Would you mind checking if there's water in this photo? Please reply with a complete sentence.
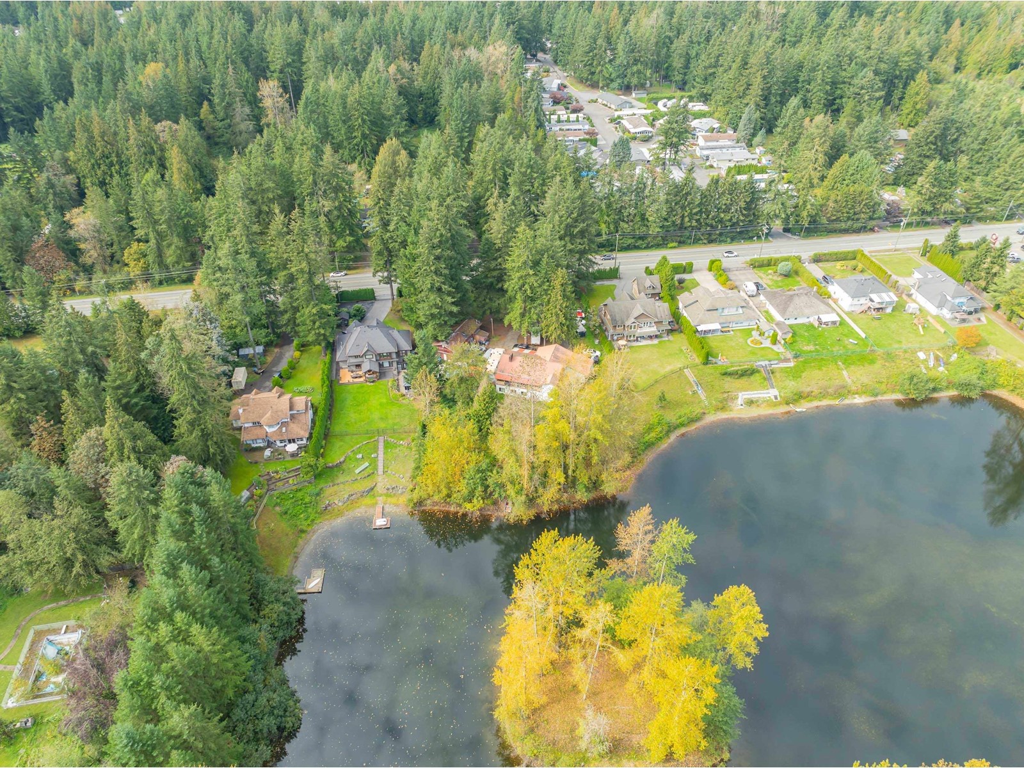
Yes, there's water in this view.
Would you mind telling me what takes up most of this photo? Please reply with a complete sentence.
The scene is dominated by trees.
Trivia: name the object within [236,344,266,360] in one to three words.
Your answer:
shed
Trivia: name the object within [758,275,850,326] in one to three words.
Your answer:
house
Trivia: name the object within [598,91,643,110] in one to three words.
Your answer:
building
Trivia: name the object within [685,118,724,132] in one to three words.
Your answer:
house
